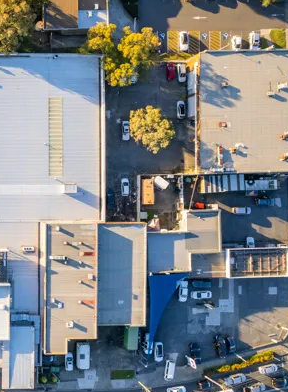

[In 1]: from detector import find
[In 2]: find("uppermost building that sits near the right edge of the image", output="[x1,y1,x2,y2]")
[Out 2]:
[190,50,288,172]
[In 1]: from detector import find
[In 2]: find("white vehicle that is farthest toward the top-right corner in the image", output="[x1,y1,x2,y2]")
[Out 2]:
[247,33,260,50]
